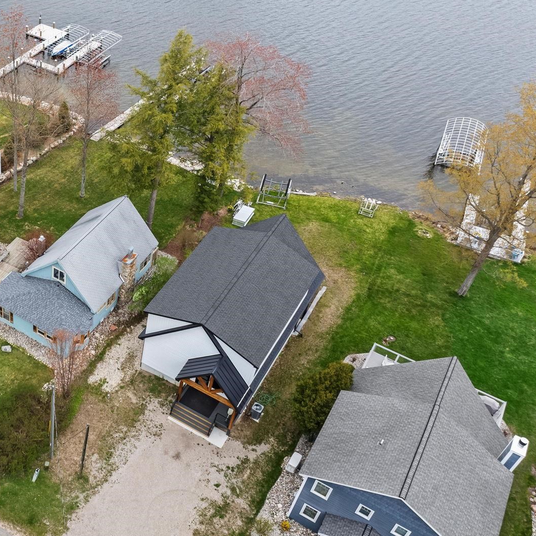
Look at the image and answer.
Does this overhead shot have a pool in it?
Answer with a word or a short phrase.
No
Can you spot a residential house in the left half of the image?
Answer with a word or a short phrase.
Yes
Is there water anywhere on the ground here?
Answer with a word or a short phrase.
Yes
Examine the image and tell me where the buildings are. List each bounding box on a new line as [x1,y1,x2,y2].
[135,213,328,446]
[287,343,533,536]
[0,196,157,353]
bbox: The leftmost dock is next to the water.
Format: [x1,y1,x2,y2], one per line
[0,16,106,82]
